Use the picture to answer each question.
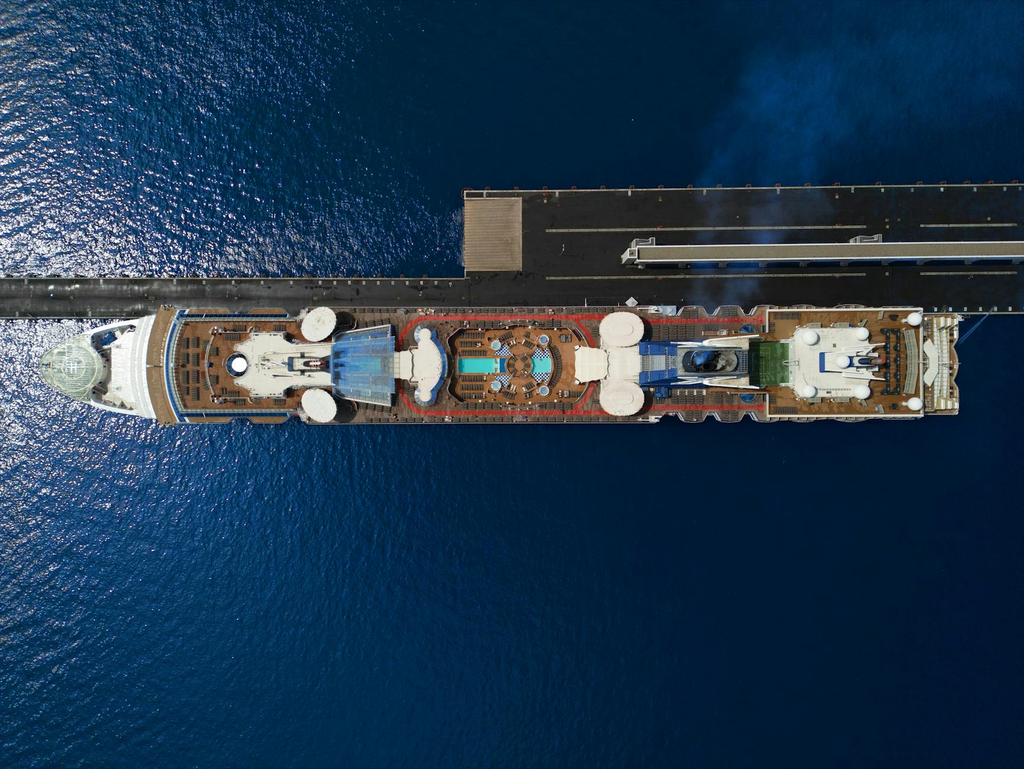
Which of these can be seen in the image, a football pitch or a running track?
running track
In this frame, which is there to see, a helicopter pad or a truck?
helicopter pad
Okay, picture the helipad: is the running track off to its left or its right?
to the right of it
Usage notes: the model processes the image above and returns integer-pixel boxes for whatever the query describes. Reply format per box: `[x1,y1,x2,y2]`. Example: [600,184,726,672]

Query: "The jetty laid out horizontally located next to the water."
[0,184,1024,319]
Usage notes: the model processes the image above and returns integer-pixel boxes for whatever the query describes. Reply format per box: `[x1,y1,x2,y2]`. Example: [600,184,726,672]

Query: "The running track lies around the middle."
[396,315,764,415]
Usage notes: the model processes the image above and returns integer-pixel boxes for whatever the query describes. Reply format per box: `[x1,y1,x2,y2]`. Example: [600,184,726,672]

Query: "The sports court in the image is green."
[741,339,799,388]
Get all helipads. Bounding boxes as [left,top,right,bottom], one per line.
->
[38,334,103,401]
